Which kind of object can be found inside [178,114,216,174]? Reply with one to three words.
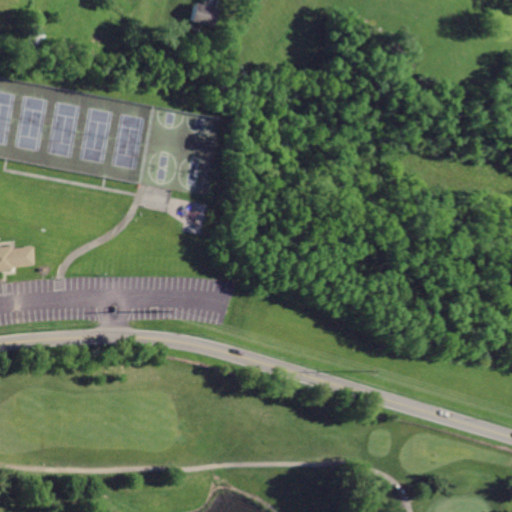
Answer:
basketball court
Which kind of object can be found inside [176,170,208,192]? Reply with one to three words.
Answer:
basketball court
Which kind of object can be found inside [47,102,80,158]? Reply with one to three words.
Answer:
tennis court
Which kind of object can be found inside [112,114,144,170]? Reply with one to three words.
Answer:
tennis court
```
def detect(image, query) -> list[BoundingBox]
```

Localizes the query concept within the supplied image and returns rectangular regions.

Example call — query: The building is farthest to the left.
[0,238,35,274]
